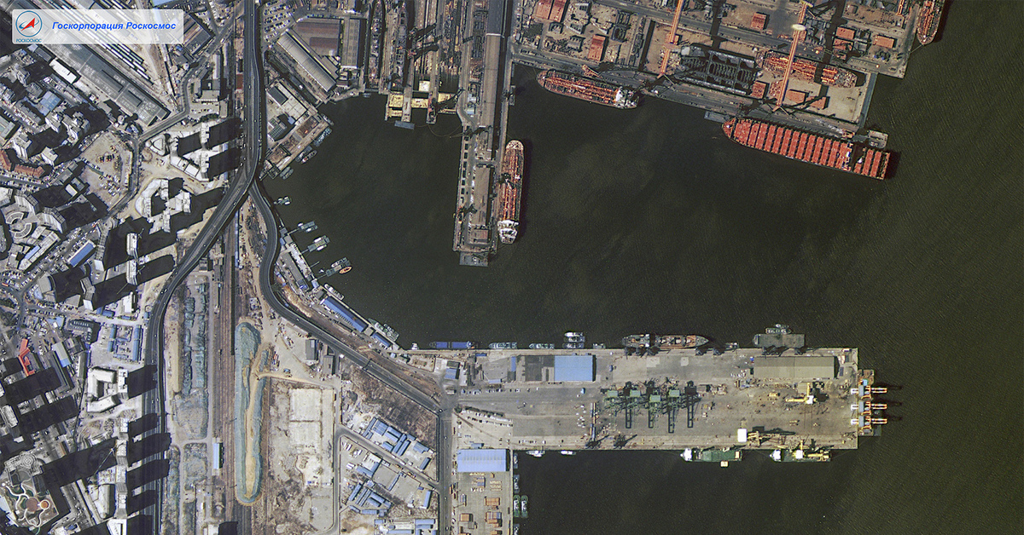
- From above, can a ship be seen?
Yes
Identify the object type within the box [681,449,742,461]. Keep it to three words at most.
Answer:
ship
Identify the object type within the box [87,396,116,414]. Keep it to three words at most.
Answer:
building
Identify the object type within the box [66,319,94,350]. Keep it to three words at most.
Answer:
building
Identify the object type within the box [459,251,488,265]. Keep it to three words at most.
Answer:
pier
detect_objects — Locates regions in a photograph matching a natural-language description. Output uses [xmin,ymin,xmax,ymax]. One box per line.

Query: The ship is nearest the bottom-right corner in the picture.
[770,439,832,461]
